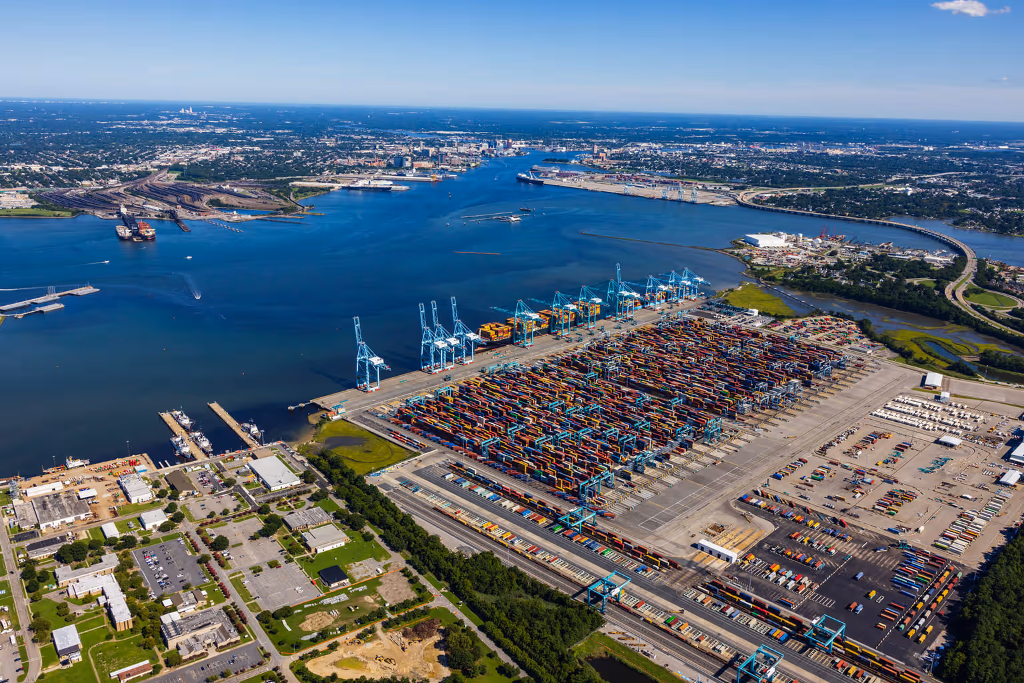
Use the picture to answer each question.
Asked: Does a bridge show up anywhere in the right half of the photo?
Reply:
Yes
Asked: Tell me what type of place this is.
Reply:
port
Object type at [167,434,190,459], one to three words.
ship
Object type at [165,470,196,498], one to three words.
building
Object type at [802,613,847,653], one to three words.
container crane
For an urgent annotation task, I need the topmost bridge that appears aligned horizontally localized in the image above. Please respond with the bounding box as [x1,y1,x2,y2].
[734,197,978,268]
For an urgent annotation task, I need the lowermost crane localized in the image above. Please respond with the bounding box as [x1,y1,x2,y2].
[736,642,786,683]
